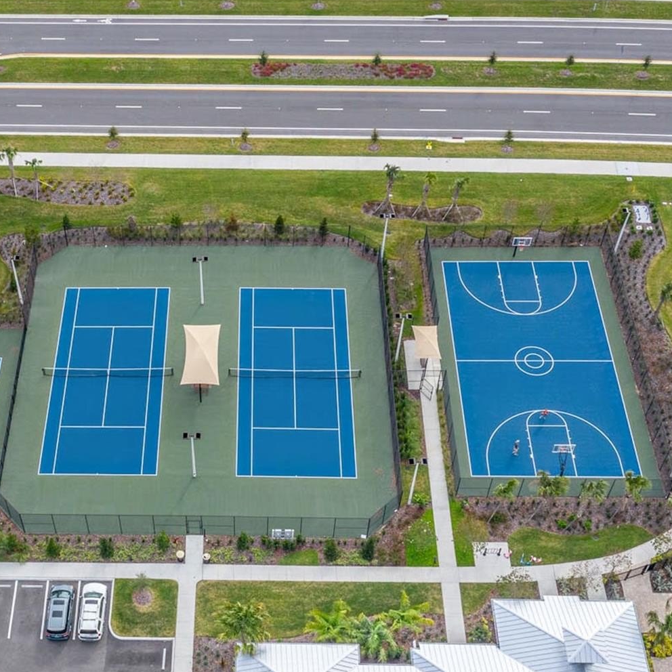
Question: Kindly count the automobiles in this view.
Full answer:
I count 2 automobiles.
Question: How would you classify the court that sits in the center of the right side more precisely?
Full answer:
From above, the court that sits in the center of the right side can be identified as a basketball court.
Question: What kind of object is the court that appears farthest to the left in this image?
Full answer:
The court that appears farthest to the left appears to be a tennis court.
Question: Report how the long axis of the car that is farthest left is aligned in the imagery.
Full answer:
The car that is farthest left runs vertically in the image.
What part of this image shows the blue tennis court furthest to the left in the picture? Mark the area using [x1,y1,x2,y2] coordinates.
[38,287,174,474]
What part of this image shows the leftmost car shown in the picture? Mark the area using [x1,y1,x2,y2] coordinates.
[46,585,74,641]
